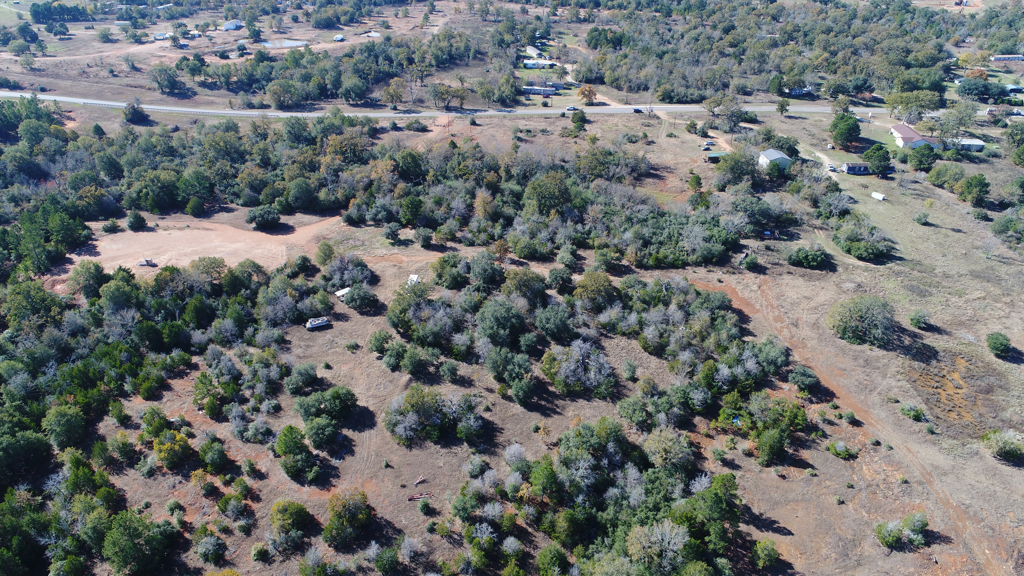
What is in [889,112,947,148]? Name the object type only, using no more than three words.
building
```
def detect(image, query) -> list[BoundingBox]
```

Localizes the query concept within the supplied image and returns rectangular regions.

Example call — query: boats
[301,313,335,326]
